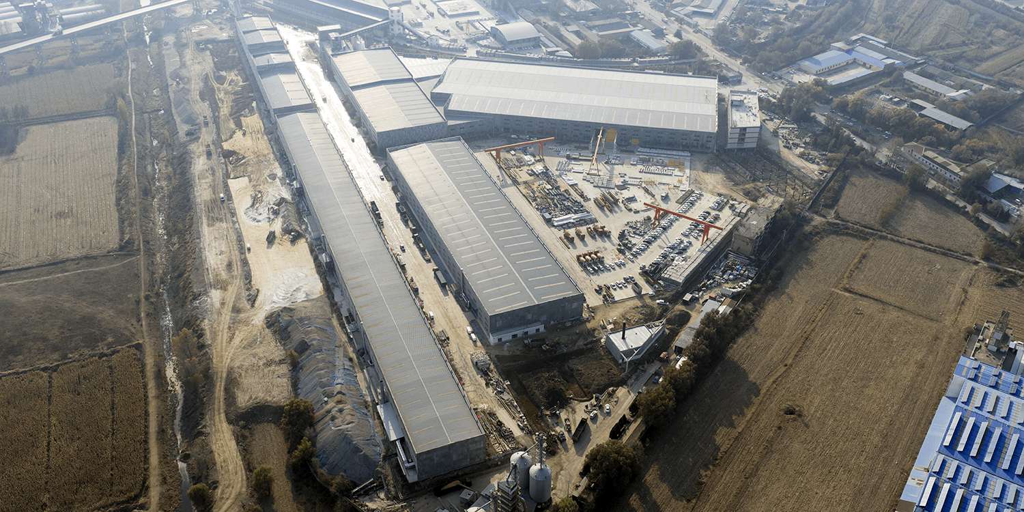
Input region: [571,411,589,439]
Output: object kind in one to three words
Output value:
vehicle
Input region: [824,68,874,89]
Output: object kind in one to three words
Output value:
shed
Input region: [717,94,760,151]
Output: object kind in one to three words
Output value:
building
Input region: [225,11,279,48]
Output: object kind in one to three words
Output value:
building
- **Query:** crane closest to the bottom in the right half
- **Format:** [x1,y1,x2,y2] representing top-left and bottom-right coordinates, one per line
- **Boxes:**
[644,203,723,240]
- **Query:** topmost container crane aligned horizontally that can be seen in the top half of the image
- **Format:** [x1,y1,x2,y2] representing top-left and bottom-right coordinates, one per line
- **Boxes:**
[484,138,555,168]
